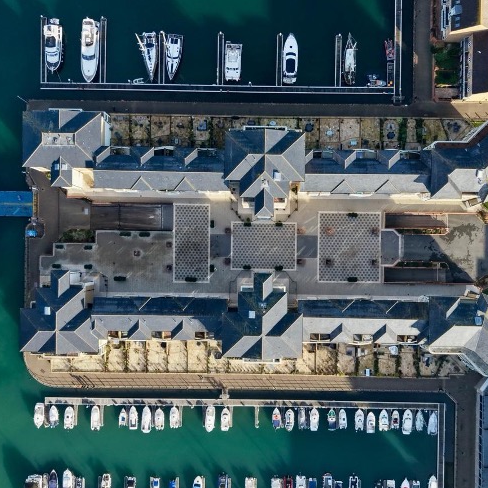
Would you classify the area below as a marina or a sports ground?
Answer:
marina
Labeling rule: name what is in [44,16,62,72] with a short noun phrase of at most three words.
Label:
boat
